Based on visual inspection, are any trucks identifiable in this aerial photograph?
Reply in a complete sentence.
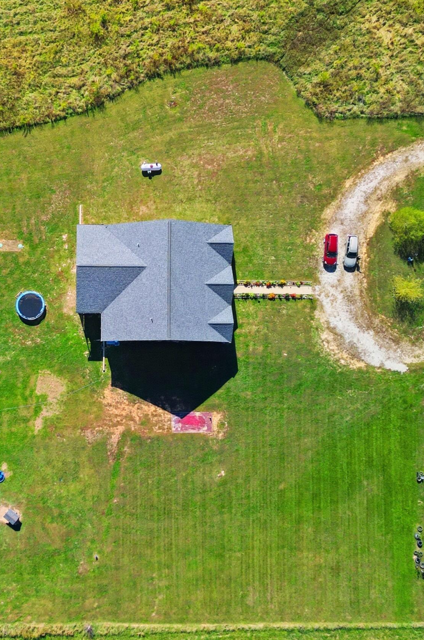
No, I can see no truck in this picture.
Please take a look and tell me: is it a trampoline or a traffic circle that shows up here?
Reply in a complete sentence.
I can see a trampoline in this picture.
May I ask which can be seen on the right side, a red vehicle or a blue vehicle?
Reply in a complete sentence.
It is a red vehicle that can be seen on the right side.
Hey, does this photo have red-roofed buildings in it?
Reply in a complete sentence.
No, the photo shows no red-roofed building.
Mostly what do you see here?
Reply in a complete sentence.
The scene is dominated by grass.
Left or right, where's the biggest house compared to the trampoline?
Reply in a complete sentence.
Relative to the trampoline, the biggest house lies to the right.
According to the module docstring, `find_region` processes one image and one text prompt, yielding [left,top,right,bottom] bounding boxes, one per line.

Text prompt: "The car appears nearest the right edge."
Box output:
[341,233,359,268]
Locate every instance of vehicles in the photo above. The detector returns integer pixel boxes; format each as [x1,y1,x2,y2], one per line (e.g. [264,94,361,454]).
[341,233,359,268]
[323,233,341,264]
